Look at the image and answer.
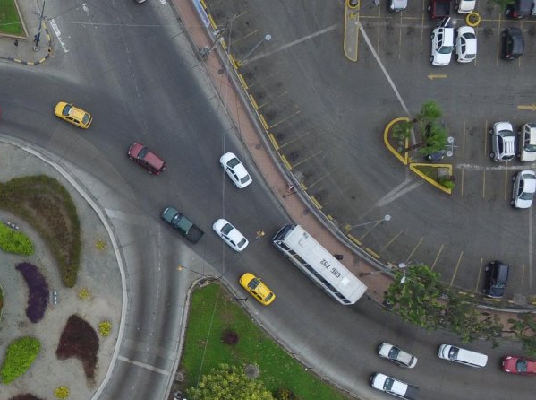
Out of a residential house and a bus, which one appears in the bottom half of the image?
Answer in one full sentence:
There is a bus in the bottom half of the image.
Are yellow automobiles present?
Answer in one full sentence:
Yes, there is a yellow automobile in the image.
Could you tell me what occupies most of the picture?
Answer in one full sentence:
The bulk of the photo consists of paved ground.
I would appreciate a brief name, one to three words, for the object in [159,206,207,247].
truck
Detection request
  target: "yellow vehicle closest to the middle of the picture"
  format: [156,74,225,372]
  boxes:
[236,272,277,308]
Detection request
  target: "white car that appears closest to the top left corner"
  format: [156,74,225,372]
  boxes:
[217,151,252,190]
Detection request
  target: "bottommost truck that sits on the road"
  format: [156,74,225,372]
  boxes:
[368,373,421,400]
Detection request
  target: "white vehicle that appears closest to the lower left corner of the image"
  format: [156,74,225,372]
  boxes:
[210,217,251,254]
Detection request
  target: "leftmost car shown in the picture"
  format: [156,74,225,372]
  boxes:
[51,102,94,127]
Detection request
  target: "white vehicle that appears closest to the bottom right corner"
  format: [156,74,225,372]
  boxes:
[435,340,494,367]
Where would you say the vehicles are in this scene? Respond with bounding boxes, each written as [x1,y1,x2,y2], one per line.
[431,16,459,68]
[387,0,406,13]
[217,151,252,190]
[236,272,277,308]
[373,341,421,370]
[513,169,536,210]
[501,26,524,62]
[455,25,478,65]
[429,0,451,20]
[210,217,251,254]
[455,0,477,16]
[425,146,446,163]
[517,122,536,163]
[435,340,494,367]
[368,373,421,400]
[51,102,94,127]
[265,218,365,303]
[490,121,516,163]
[484,259,509,299]
[125,144,167,175]
[159,206,207,247]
